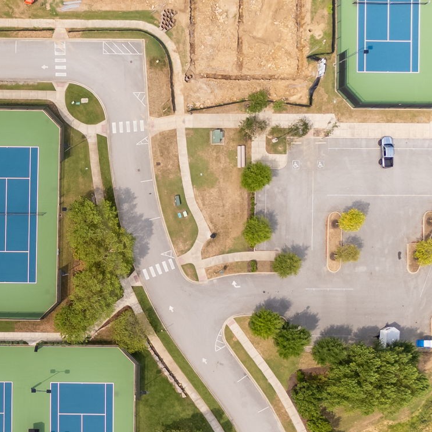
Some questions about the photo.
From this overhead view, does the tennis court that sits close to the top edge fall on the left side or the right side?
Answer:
right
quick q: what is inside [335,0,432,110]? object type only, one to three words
tennis court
